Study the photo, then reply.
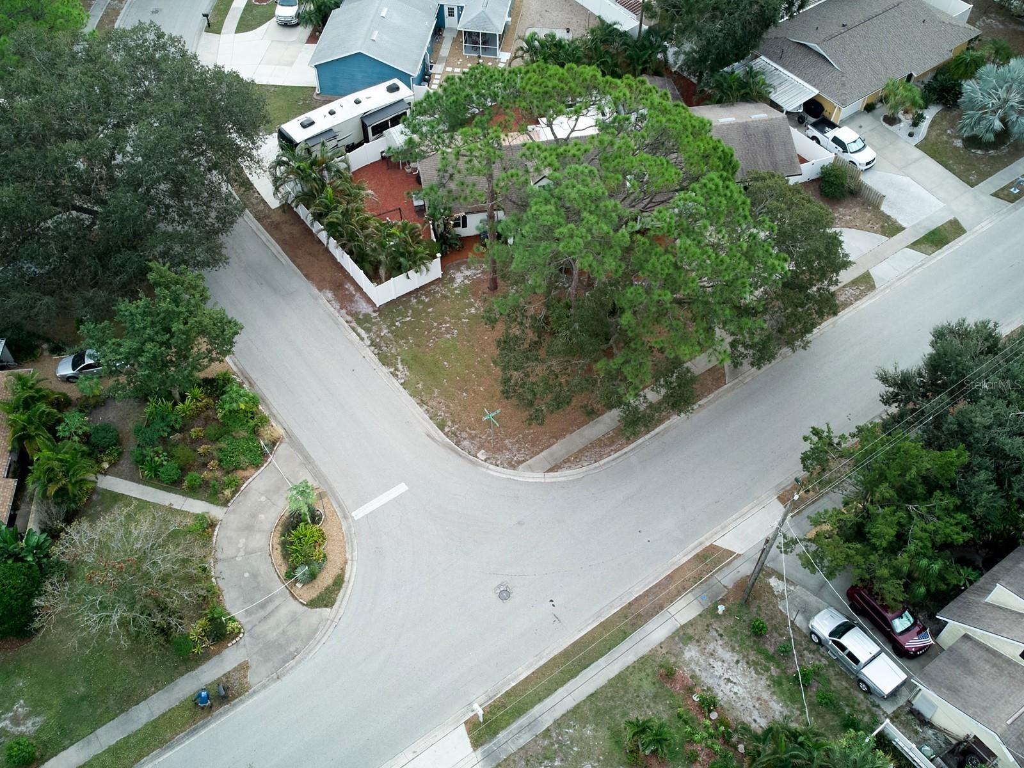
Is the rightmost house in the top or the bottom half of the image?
bottom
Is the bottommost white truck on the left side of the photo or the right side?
right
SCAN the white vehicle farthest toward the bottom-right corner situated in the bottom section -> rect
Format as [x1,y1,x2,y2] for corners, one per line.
[806,607,911,707]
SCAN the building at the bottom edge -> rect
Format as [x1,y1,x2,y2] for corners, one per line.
[908,548,1024,768]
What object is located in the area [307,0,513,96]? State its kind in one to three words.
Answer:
house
